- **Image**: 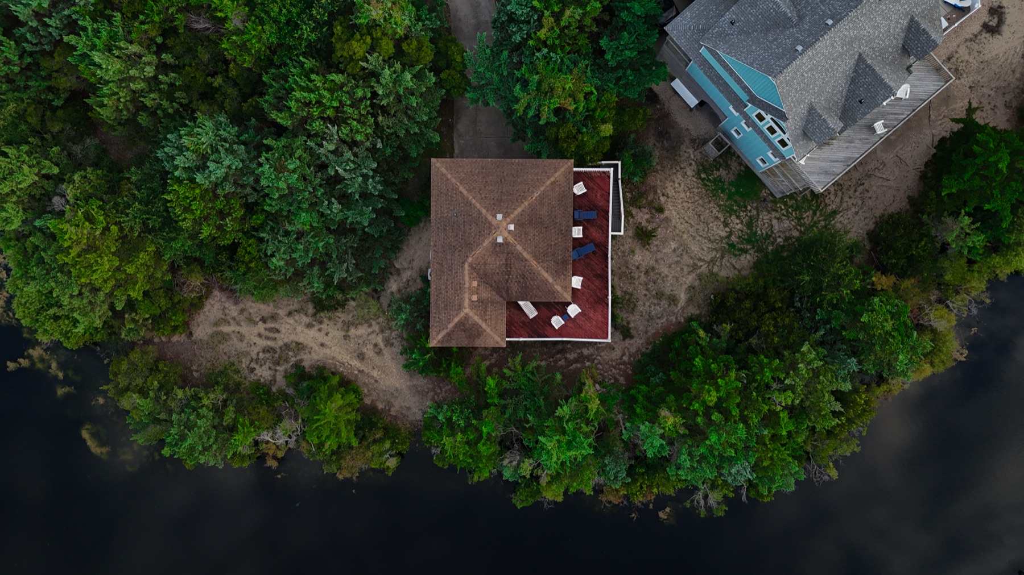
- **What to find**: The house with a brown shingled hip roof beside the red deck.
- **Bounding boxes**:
[430,158,573,347]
